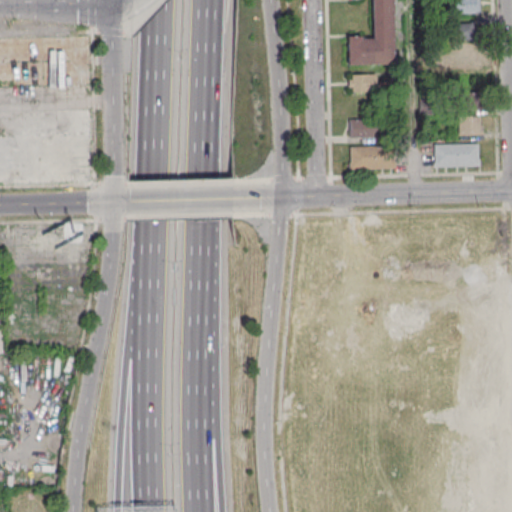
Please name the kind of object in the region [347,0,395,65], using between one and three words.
building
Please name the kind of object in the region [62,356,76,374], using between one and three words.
vehicle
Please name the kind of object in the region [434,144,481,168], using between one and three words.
building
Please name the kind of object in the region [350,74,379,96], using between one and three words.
house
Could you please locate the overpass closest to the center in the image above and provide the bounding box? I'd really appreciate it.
[126,178,234,220]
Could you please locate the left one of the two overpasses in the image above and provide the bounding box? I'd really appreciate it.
[124,0,170,37]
